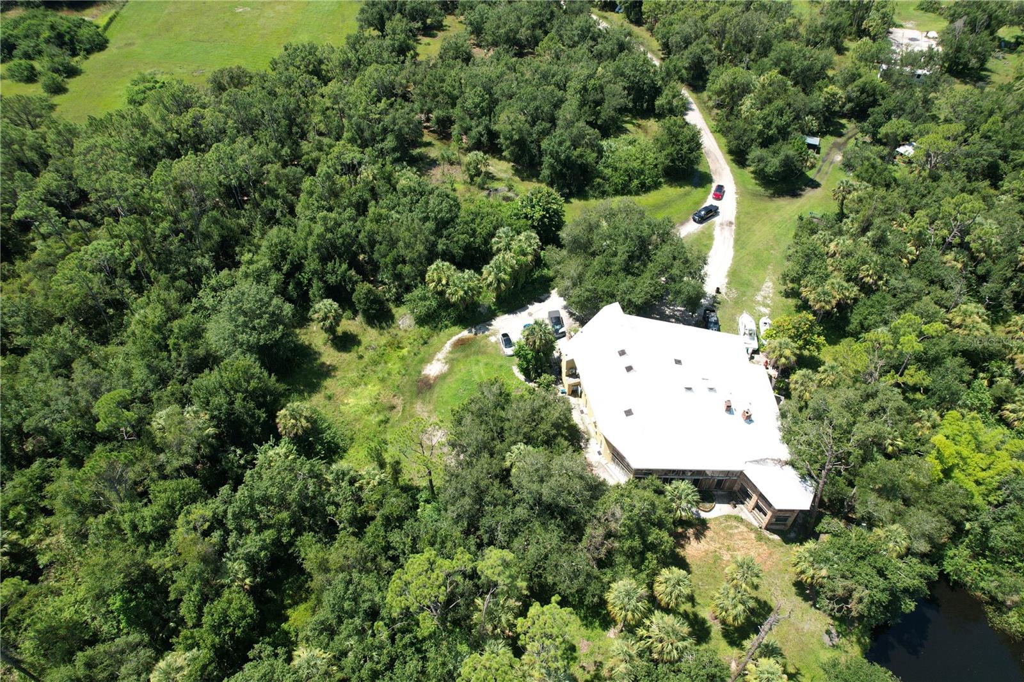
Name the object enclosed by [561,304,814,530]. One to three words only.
house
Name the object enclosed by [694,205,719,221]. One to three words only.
vehicle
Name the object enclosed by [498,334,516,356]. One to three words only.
car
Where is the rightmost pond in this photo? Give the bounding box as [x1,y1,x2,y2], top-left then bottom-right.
[866,575,1024,682]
